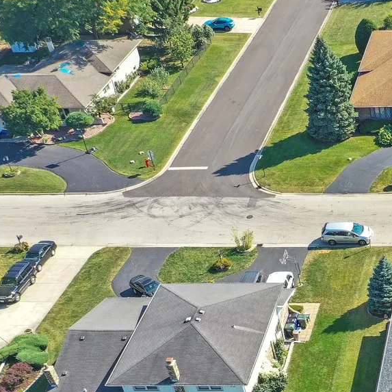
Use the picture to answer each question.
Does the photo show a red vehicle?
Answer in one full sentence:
No, the frame has no red vehicle in it.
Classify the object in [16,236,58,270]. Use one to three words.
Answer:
car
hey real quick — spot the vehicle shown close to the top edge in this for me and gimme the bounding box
[206,15,237,29]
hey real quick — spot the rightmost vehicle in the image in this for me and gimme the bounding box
[319,221,374,245]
